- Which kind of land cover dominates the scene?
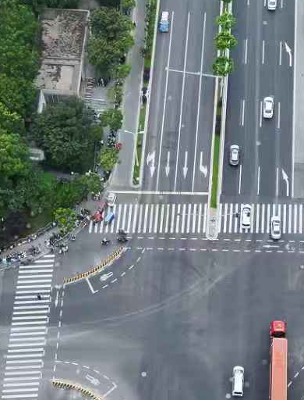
paved ground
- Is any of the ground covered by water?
No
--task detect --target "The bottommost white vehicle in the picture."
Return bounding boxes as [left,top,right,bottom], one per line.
[232,366,246,398]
